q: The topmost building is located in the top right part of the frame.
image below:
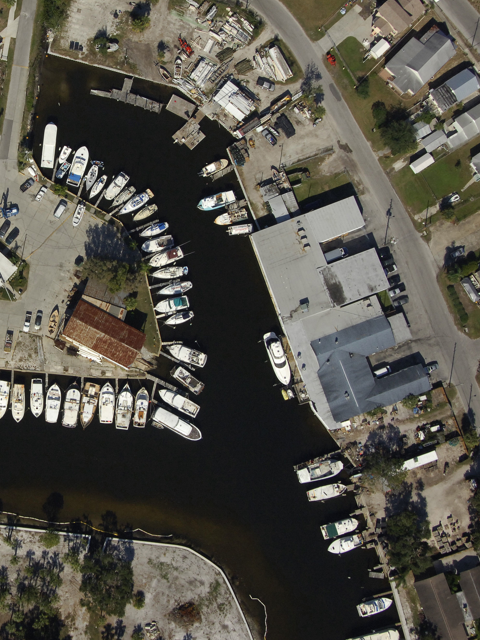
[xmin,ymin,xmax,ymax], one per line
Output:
[372,0,426,38]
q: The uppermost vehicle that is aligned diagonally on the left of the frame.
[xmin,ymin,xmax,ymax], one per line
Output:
[175,32,197,54]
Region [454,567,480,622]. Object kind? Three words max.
house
